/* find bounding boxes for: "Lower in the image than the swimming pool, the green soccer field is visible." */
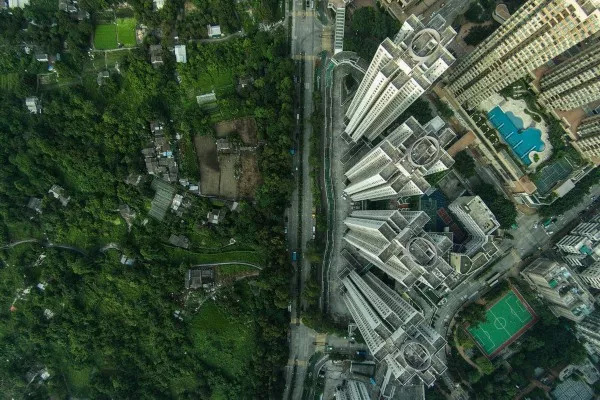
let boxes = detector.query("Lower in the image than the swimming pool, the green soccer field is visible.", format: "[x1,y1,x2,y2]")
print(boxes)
[467,289,540,359]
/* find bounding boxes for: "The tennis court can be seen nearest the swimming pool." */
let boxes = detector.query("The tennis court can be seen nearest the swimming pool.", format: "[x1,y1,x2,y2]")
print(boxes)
[534,159,577,194]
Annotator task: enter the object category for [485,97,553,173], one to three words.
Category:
swimming pool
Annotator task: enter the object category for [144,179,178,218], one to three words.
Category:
house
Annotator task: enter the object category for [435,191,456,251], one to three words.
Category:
basketball court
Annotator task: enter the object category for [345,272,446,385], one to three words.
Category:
building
